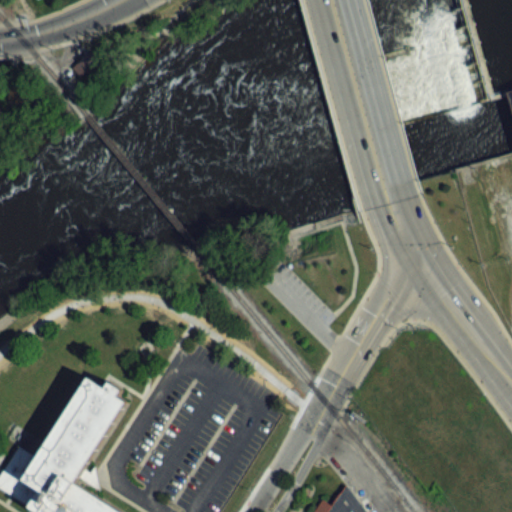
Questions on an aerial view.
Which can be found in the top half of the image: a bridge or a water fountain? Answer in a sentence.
What appears in the top half of the image is a bridge.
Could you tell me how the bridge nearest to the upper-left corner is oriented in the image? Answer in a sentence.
I'd say the bridge nearest to the upper-left corner is aligned diagonally in the picture.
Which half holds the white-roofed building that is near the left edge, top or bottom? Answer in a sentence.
It is in the bottom half that the white-roofed building that is near the left edge appears.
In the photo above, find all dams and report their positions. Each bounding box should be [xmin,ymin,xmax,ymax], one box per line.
[452,0,502,104]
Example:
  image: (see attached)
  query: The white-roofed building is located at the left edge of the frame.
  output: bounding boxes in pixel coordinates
[0,376,126,512]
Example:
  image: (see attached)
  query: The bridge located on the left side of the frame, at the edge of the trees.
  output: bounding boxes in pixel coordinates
[83,114,203,258]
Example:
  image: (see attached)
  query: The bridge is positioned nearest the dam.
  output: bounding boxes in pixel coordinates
[298,0,424,232]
